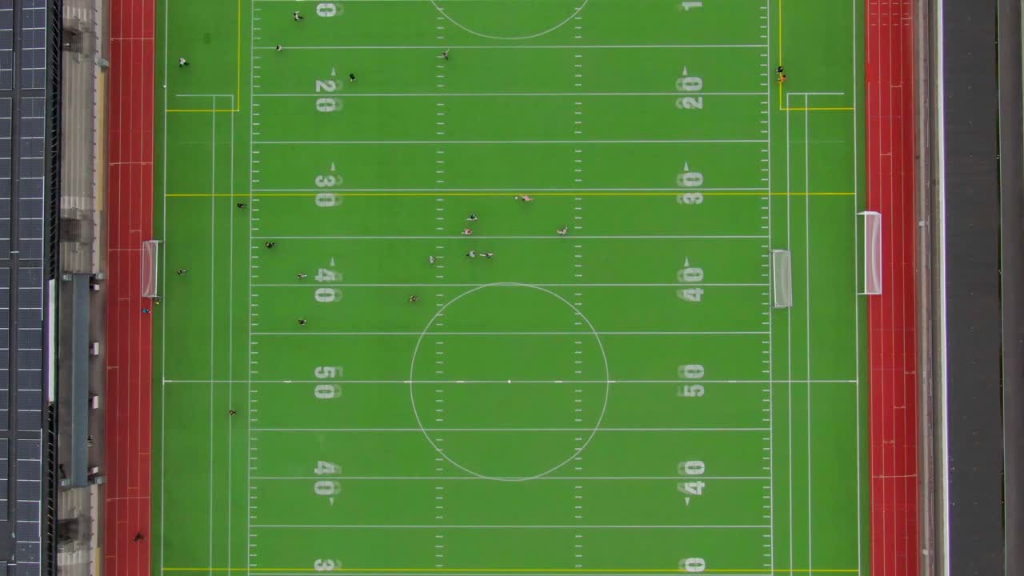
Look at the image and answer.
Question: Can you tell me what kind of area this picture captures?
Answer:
sports ground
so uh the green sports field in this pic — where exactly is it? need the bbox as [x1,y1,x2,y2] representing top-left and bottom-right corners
[151,0,871,576]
